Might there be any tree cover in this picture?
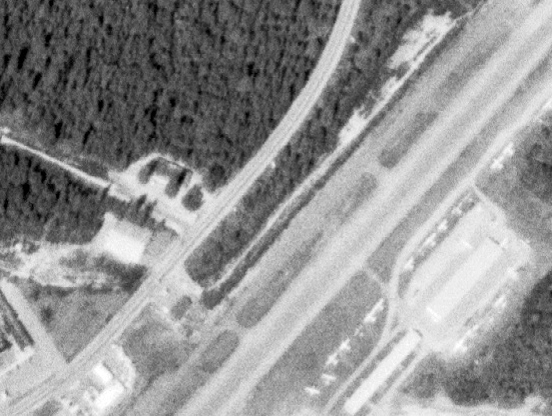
Yes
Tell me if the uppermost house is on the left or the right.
left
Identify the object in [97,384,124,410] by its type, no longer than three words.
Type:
building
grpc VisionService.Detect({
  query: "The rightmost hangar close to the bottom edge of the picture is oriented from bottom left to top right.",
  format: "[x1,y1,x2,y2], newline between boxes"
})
[343,328,423,416]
